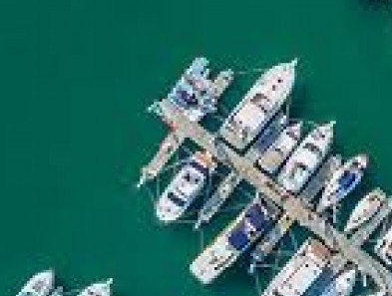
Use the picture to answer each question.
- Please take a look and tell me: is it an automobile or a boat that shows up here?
boat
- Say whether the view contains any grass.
No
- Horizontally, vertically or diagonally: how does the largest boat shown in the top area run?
diagonally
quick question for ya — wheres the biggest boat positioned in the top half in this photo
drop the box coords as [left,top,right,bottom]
[221,59,296,151]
